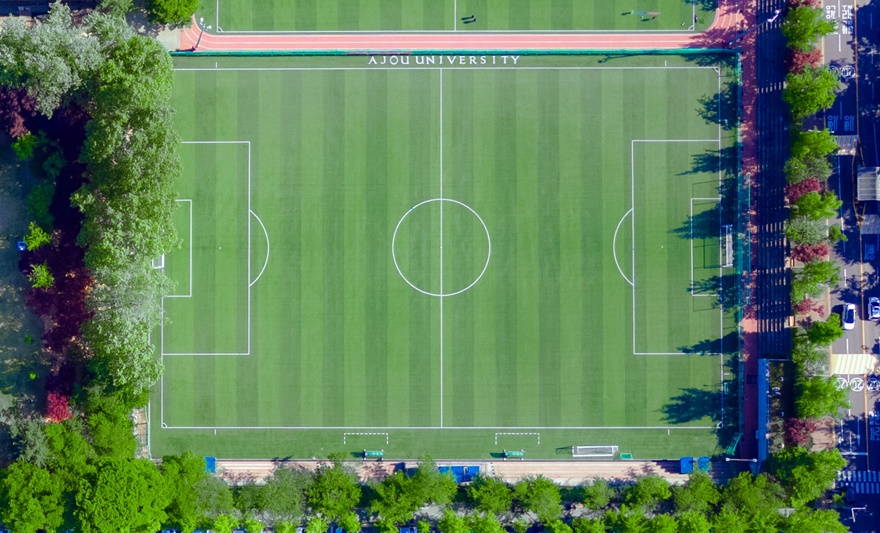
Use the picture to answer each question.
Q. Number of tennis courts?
0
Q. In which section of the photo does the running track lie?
top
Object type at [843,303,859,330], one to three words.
car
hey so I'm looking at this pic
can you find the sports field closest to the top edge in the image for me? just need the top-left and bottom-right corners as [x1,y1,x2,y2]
[194,0,717,33]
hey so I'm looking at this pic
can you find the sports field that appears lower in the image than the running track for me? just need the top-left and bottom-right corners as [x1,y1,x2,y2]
[149,54,738,459]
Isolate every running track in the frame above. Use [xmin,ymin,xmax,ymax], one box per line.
[181,0,742,54]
